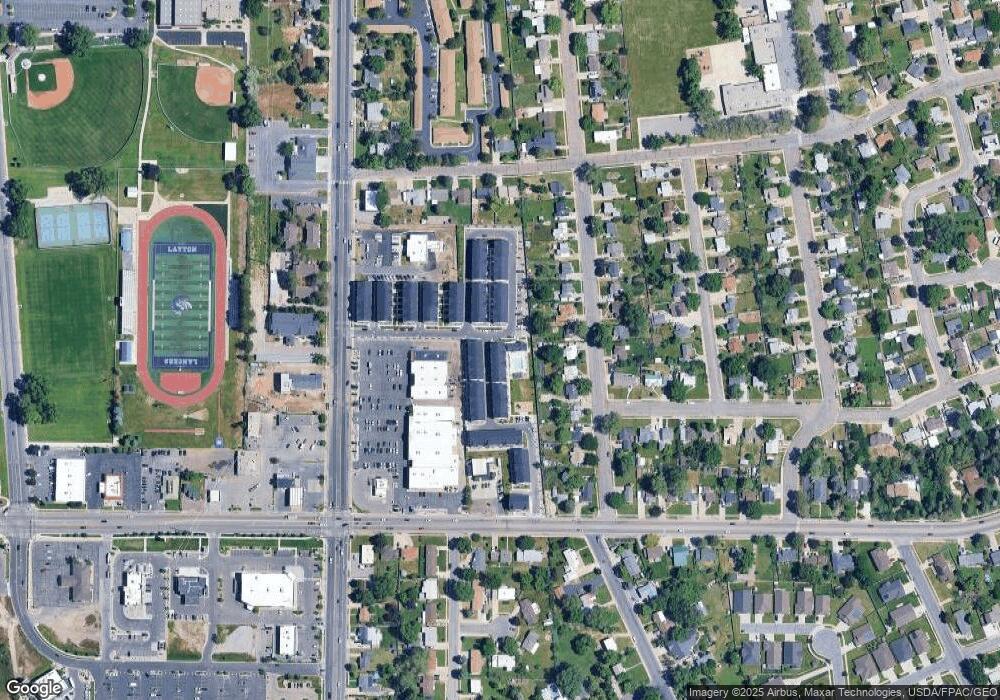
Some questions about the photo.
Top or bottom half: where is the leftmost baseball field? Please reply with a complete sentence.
It is in the top half that the leftmost baseball field appears.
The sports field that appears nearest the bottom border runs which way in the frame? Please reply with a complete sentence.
The sports field that appears nearest the bottom border runs from top to bottom in the image.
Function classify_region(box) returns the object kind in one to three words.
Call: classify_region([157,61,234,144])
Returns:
baseball field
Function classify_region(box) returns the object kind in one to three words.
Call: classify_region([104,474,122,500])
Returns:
building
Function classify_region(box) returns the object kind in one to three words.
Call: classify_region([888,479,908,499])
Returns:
house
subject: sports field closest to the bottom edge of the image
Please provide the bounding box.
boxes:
[148,216,216,397]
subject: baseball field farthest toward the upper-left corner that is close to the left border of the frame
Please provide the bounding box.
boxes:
[13,49,143,167]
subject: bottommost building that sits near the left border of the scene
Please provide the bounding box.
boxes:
[21,670,69,700]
